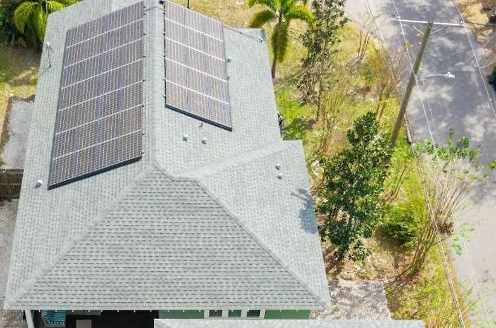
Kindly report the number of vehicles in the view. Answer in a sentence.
The photo contains no vehicles.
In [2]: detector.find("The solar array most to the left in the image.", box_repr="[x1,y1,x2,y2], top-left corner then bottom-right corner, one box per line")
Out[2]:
[47,1,147,191]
